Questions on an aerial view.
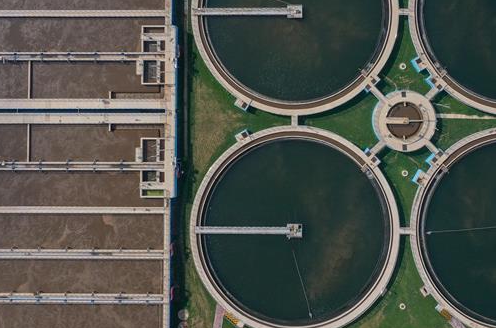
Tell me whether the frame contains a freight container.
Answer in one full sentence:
No, the photo shows no freight container.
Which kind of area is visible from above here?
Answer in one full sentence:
The picture captures an industrial area.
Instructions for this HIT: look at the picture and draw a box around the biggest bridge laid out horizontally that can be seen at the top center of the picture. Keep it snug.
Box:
[192,4,303,18]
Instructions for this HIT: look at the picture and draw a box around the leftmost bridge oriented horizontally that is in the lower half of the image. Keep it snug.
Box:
[190,222,302,238]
